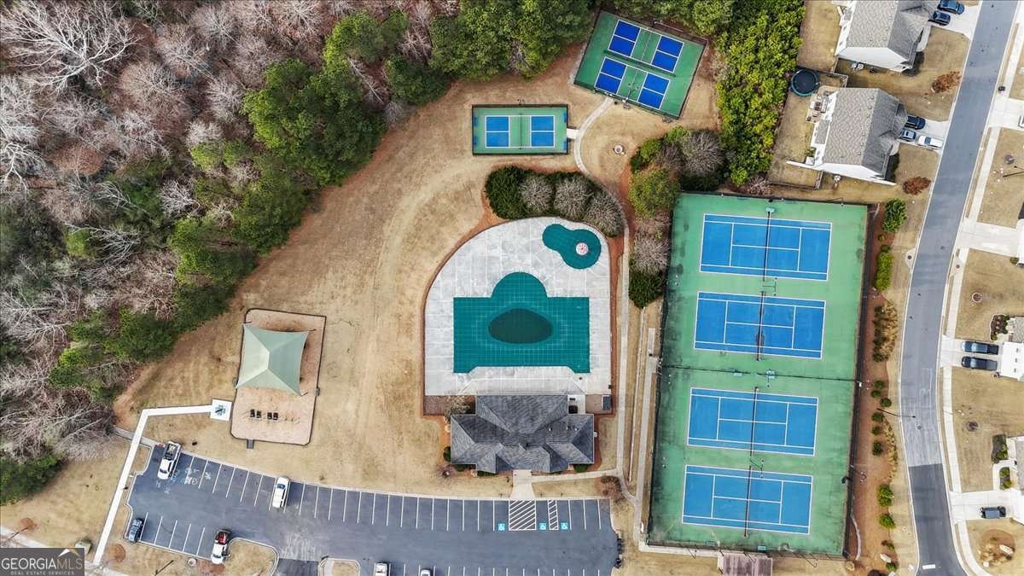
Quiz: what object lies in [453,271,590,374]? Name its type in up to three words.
swimming pool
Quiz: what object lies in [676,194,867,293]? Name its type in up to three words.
tennis court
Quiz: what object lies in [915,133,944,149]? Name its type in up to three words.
car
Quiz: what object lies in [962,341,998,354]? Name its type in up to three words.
vehicle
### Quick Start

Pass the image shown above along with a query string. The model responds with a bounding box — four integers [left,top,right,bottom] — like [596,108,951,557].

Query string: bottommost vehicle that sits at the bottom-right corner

[978,505,1005,519]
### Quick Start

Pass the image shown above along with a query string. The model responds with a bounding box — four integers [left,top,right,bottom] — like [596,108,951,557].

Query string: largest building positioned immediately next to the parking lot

[450,394,594,475]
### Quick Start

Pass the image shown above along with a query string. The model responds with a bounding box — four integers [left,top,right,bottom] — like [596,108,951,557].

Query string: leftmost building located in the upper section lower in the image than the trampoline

[807,90,906,182]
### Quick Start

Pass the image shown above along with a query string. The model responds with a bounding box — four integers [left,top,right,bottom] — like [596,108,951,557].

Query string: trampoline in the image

[791,65,825,96]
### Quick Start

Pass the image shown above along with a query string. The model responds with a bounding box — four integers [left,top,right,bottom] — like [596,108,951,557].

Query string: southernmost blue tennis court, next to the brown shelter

[651,454,848,554]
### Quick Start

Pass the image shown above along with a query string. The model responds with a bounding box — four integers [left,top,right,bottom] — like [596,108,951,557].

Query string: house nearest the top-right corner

[835,0,937,72]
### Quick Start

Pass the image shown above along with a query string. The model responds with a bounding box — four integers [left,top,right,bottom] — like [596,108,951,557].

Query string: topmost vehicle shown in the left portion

[160,443,181,478]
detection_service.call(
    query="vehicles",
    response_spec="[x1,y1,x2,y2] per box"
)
[160,443,181,478]
[962,341,998,354]
[934,0,962,15]
[375,562,387,576]
[901,114,928,130]
[212,527,231,562]
[978,505,1005,519]
[273,478,290,508]
[915,133,944,149]
[420,569,431,576]
[934,10,952,26]
[960,357,996,370]
[904,128,920,142]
